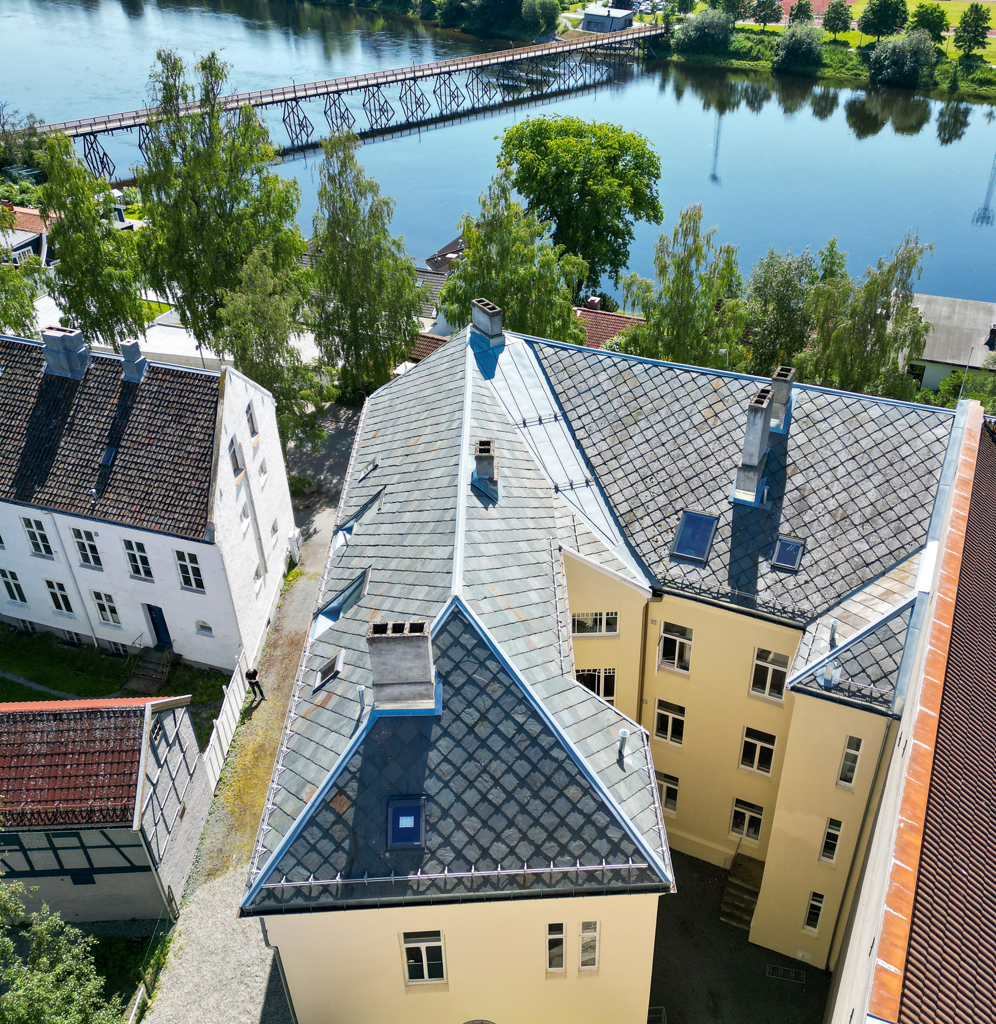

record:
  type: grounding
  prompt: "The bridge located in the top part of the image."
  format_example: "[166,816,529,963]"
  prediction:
[0,24,665,168]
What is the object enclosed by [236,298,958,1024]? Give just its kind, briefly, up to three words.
building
